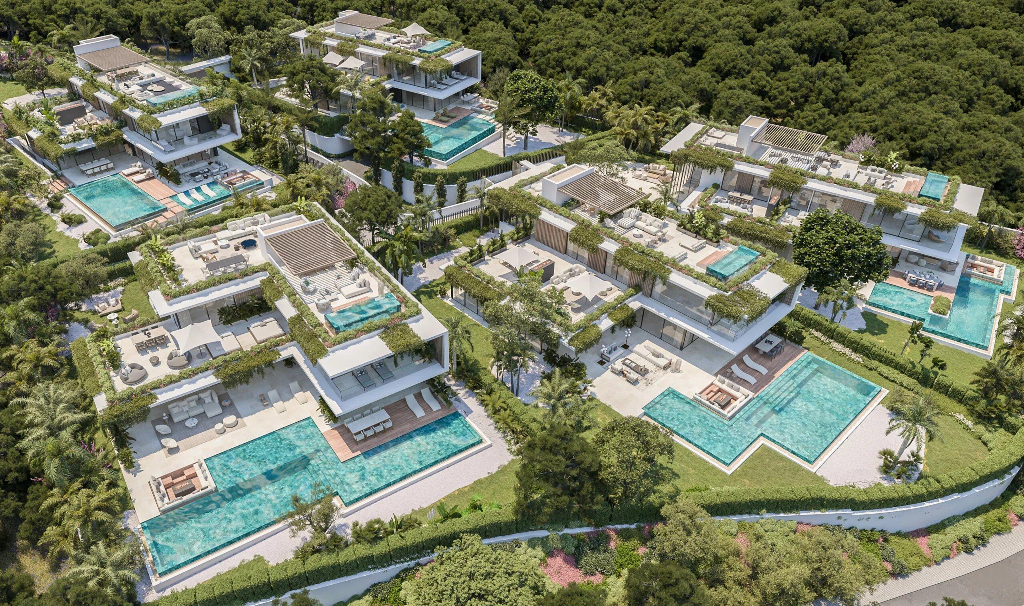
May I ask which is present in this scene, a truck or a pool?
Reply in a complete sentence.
The image shows a pool.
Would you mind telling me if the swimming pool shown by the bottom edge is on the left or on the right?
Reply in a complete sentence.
The swimming pool shown by the bottom edge sits on the left side.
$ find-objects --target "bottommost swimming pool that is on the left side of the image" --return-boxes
[136,411,492,591]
